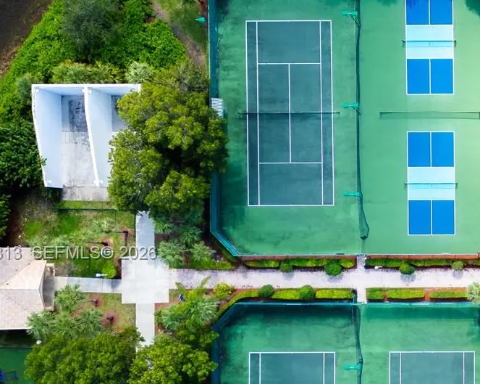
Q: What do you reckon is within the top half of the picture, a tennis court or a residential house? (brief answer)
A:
tennis court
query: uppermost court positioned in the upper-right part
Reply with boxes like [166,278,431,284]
[405,0,454,94]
